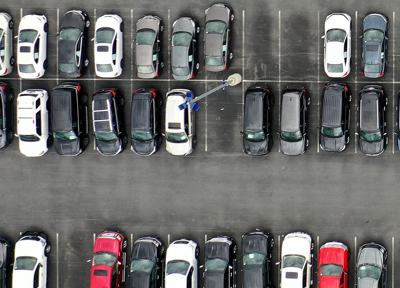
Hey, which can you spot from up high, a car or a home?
car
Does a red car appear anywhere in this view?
Yes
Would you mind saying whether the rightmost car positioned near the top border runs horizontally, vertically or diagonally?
vertically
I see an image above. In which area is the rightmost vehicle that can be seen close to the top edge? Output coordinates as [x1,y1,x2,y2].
[359,13,391,78]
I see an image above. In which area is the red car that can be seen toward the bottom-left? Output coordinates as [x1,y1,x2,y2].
[84,231,125,288]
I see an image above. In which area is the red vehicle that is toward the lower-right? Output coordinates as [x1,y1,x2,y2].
[315,241,350,288]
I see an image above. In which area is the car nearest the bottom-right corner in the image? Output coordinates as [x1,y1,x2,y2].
[353,243,387,288]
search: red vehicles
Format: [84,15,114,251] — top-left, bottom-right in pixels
[84,231,125,288]
[315,241,350,288]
